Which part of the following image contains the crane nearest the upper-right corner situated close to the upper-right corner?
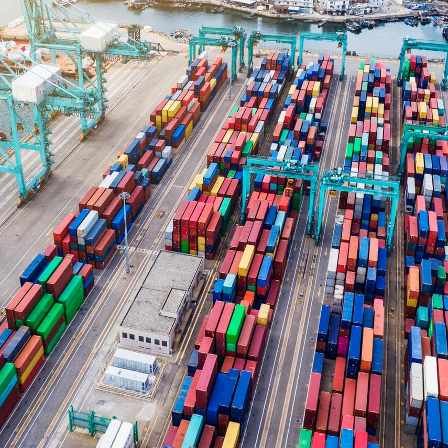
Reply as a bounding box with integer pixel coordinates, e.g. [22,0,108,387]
[396,37,448,89]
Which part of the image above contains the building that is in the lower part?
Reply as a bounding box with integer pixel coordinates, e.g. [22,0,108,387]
[118,250,205,355]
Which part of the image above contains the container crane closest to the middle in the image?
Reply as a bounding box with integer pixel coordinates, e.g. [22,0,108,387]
[239,158,318,236]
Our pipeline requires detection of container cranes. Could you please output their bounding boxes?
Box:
[25,0,154,138]
[297,31,347,78]
[205,21,250,68]
[248,30,297,80]
[396,37,448,89]
[188,35,236,83]
[315,174,400,258]
[239,158,318,236]
[0,36,100,207]
[395,129,448,189]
